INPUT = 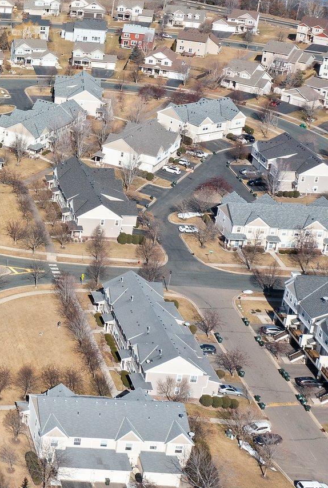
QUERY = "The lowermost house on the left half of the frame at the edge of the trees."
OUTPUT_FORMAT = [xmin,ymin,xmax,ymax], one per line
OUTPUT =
[24,371,195,488]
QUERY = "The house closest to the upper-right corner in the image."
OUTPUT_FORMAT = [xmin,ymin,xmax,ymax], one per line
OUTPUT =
[295,17,328,47]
